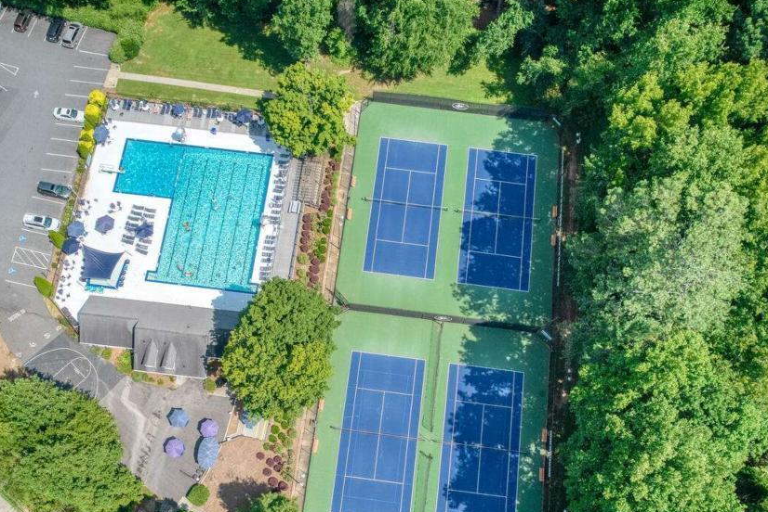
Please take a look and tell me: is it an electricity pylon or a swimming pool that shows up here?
swimming pool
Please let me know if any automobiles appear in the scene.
Yes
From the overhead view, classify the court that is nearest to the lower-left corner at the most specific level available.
basketball court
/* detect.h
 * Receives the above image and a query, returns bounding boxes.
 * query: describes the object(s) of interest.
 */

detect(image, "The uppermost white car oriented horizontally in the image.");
[53,108,85,123]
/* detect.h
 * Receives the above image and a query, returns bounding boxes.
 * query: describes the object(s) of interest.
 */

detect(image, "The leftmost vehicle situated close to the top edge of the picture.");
[13,8,34,33]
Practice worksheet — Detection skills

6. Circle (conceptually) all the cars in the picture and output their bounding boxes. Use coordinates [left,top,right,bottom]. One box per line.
[38,182,71,199]
[13,8,34,33]
[46,17,66,42]
[62,22,82,47]
[25,214,58,231]
[53,108,85,123]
